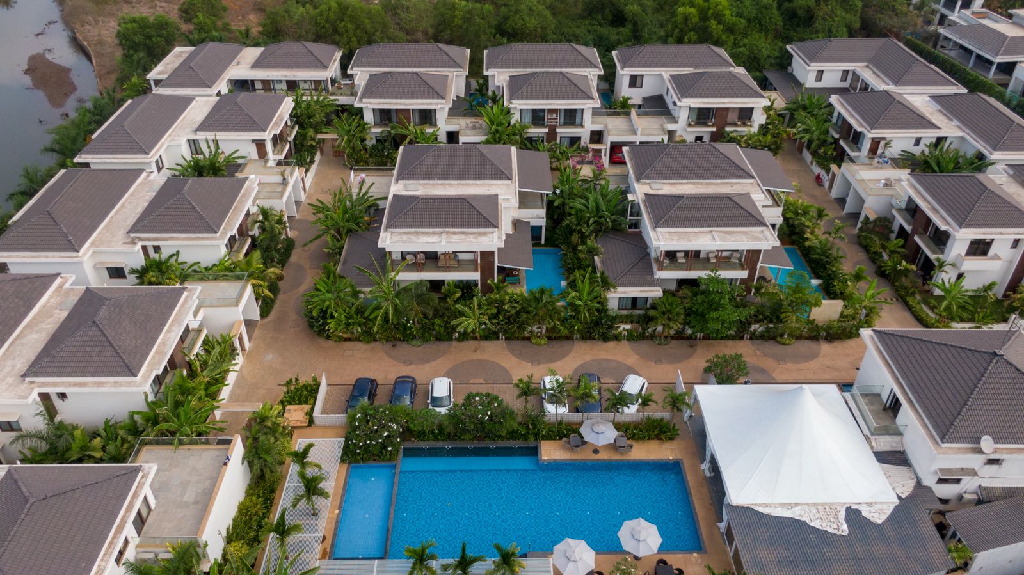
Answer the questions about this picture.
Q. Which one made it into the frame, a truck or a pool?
pool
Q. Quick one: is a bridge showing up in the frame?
No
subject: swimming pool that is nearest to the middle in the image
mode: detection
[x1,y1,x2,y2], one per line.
[523,246,571,310]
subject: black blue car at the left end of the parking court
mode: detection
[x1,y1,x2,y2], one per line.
[350,373,384,416]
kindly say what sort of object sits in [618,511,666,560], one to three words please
umbrella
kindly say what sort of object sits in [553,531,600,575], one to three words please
umbrella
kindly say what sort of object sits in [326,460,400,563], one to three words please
swimming pool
